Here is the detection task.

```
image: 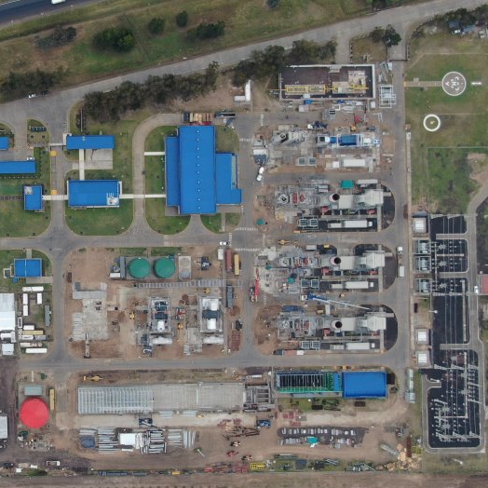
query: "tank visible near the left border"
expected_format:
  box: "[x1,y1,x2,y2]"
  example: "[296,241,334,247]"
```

[19,396,48,428]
